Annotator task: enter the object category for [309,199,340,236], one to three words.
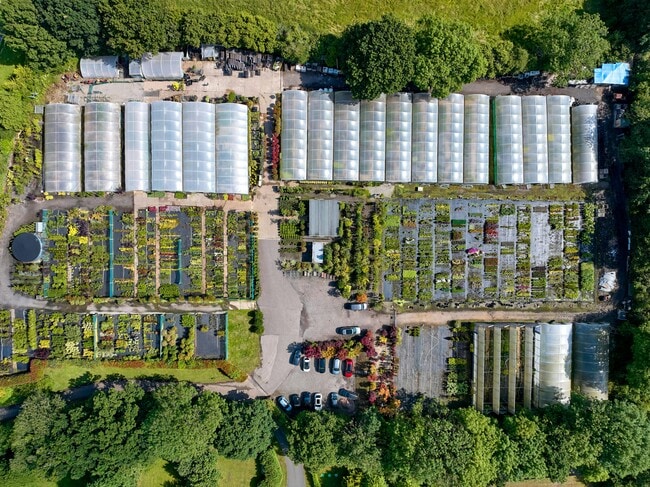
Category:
shed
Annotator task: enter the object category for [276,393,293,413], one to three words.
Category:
car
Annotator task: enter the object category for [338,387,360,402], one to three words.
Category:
car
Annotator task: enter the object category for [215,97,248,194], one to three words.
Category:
greenhouse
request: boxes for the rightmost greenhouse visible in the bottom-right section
[574,324,611,407]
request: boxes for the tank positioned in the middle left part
[6,232,45,264]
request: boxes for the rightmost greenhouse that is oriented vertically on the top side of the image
[573,102,601,184]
